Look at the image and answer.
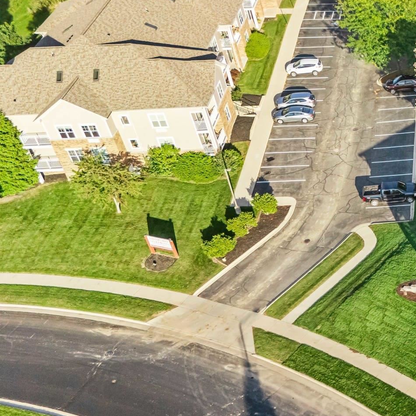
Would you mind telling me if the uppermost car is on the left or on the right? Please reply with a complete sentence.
You can find the uppermost car on the right side of the picture.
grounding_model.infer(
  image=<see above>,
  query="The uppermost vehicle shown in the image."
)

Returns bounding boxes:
[283,55,325,75]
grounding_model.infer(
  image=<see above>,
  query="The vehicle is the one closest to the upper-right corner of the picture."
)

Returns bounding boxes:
[384,73,416,93]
